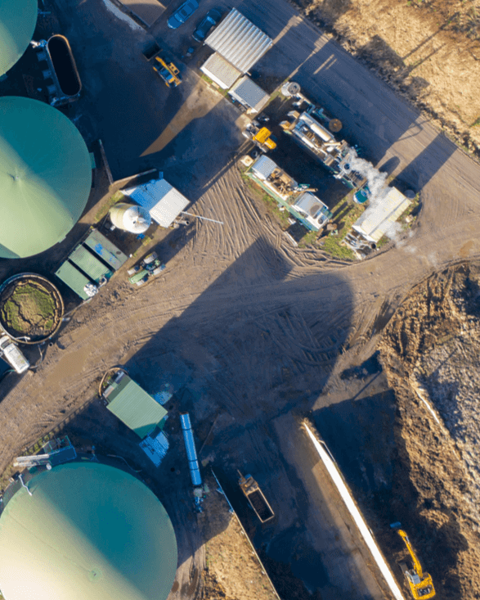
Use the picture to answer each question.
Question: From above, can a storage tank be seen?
Yes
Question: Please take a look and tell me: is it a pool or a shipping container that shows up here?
shipping container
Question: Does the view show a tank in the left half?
Yes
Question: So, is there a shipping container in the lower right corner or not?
No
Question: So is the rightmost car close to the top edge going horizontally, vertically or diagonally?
diagonally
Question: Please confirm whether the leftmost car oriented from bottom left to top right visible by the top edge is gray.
No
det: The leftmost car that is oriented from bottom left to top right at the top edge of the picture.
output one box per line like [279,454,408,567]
[167,0,198,29]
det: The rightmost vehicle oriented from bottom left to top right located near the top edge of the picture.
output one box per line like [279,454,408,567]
[191,8,221,41]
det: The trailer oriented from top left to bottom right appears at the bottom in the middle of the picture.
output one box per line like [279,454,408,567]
[242,474,279,527]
